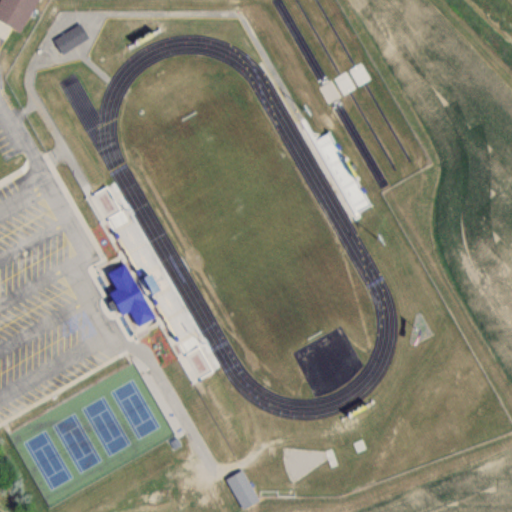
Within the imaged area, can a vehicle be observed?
No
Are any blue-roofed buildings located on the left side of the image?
Yes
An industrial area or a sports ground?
sports ground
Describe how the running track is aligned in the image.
on a diagonal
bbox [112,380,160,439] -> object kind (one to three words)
tennis court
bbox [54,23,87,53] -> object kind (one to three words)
shed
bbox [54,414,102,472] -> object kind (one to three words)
tennis court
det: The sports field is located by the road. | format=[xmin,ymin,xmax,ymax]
[120,54,378,400]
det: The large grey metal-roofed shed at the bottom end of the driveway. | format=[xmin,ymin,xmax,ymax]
[226,472,259,510]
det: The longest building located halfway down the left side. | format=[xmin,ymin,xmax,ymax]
[106,264,153,327]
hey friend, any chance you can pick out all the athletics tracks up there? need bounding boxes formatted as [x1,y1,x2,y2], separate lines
[60,34,398,420]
